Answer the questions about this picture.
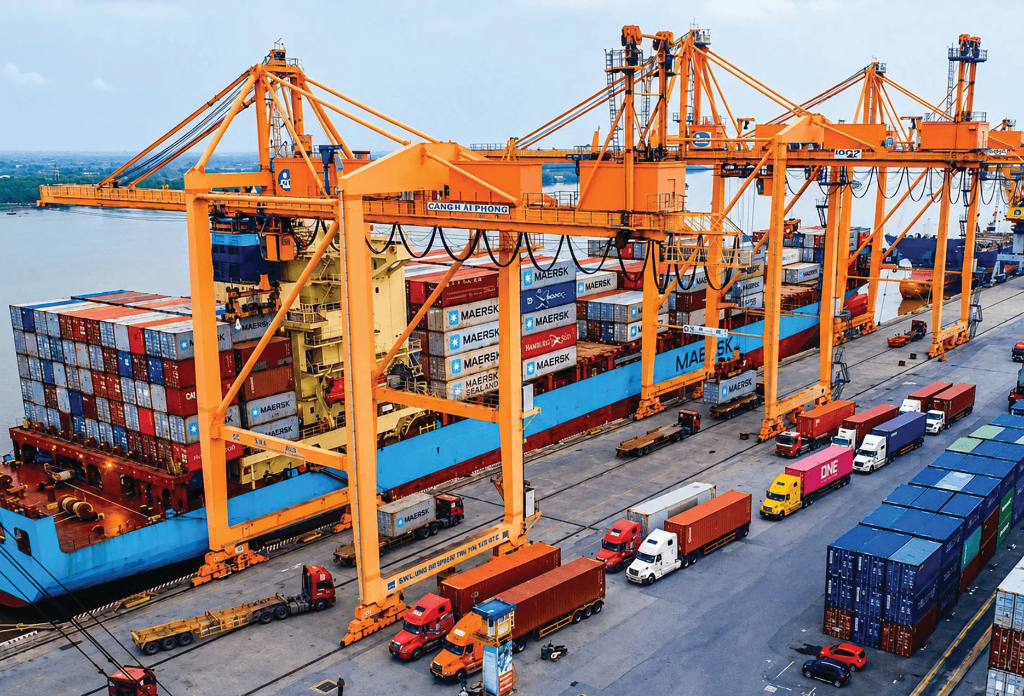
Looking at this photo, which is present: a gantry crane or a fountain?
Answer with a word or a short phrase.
gantry crane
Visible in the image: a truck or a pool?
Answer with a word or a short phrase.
truck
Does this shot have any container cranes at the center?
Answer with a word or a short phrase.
Yes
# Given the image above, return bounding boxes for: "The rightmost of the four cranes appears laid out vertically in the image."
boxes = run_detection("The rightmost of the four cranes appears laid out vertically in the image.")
[987,149,1024,284]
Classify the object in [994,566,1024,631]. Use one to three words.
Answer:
shipping container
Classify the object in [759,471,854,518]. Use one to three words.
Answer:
truck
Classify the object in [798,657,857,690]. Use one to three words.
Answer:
car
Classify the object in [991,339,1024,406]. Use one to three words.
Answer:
work vehicle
